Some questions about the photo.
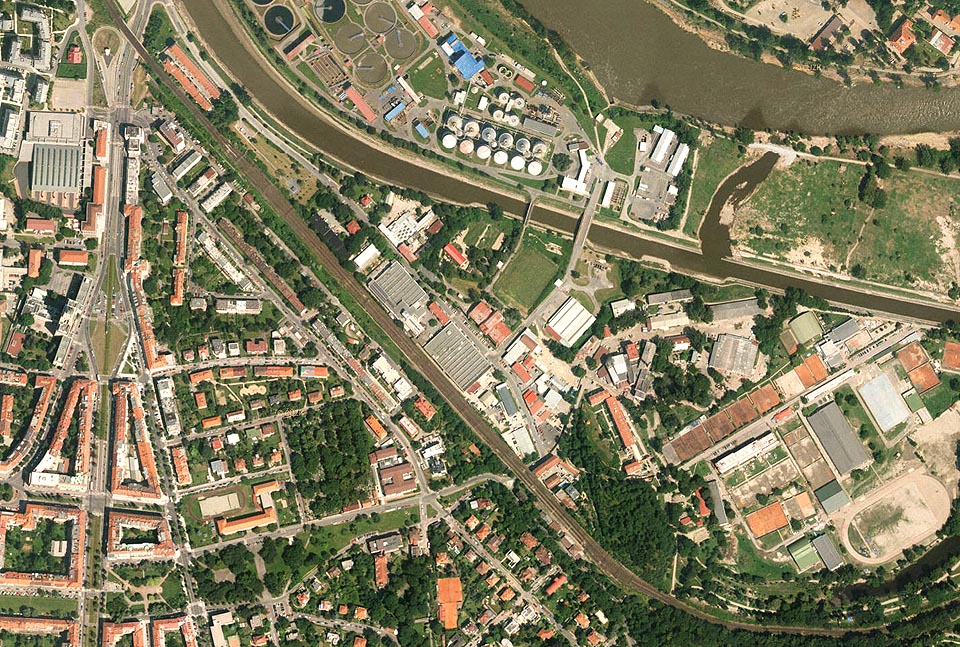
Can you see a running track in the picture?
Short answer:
Yes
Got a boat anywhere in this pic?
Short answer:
No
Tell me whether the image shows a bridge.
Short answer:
Yes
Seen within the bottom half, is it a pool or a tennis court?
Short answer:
tennis court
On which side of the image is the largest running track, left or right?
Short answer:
right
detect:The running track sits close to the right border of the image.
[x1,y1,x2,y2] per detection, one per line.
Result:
[842,473,950,564]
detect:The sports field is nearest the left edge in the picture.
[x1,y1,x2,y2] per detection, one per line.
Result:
[199,492,241,516]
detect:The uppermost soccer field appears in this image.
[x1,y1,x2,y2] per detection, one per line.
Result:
[494,249,557,313]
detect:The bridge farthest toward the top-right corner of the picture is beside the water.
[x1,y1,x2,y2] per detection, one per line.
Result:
[573,174,608,252]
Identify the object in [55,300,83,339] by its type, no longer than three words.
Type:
building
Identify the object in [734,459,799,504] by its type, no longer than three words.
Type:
tennis court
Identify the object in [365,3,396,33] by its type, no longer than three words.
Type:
water tank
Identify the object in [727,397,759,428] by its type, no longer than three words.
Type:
tennis court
